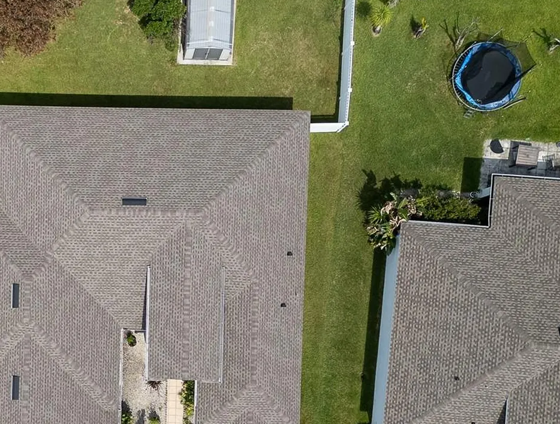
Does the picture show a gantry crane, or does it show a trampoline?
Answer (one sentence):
Looking from above, you can make out a trampoline.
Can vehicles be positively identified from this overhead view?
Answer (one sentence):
No, there appears to be no vehicle in this shot.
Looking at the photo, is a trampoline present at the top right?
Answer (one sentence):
Yes, you'll find a trampoline at the top right.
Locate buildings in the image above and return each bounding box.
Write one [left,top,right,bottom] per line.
[380,172,560,424]
[0,106,309,424]
[187,0,234,55]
